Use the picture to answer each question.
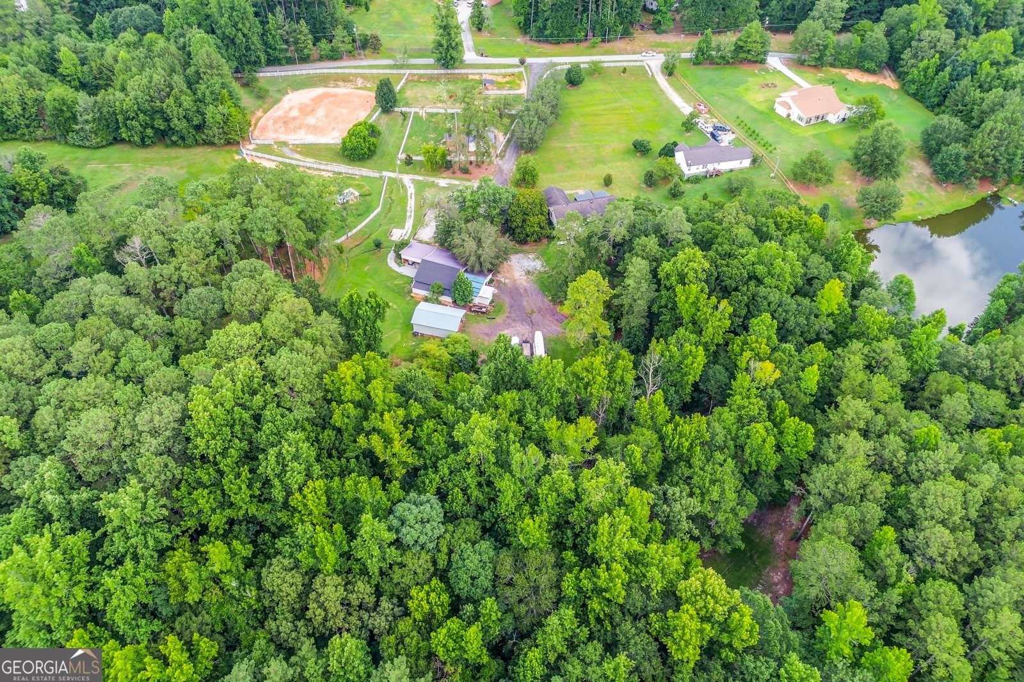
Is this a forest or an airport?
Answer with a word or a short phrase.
forest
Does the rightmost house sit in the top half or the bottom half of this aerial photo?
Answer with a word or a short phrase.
top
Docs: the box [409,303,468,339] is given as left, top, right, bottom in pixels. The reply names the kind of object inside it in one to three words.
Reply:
barn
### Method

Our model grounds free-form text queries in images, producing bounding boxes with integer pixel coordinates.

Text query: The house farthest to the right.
[772,81,847,125]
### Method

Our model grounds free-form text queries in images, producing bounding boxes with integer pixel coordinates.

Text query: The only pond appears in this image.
[848,191,1024,355]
